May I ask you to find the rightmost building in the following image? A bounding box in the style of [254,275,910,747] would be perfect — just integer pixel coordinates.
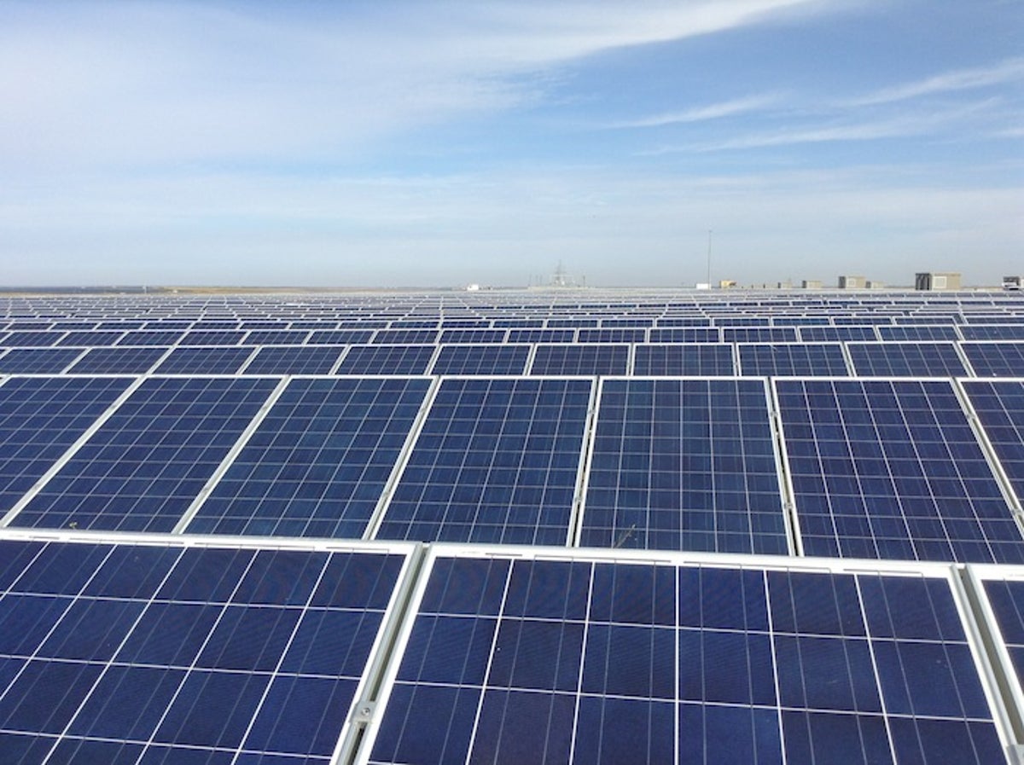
[914,272,961,290]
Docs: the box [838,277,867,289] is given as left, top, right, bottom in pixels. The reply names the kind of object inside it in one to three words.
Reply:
building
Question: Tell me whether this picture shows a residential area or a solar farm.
solar farm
